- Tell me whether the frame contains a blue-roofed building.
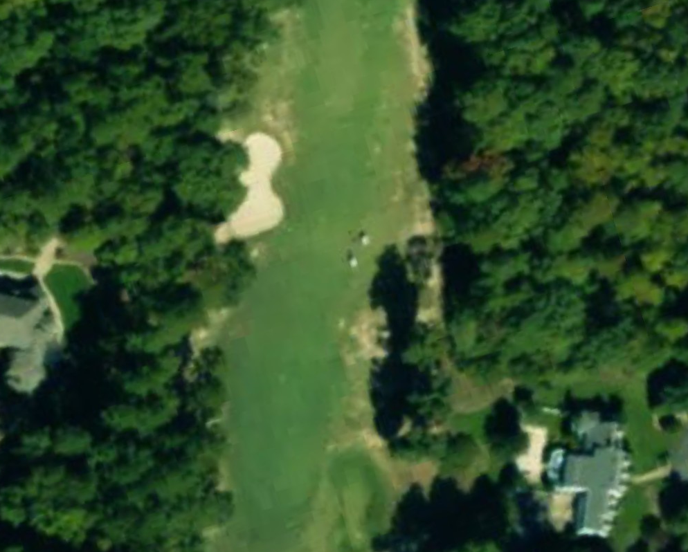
No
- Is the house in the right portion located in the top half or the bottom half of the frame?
bottom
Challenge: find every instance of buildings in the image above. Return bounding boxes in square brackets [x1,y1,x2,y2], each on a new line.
[0,292,76,393]
[548,410,629,536]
